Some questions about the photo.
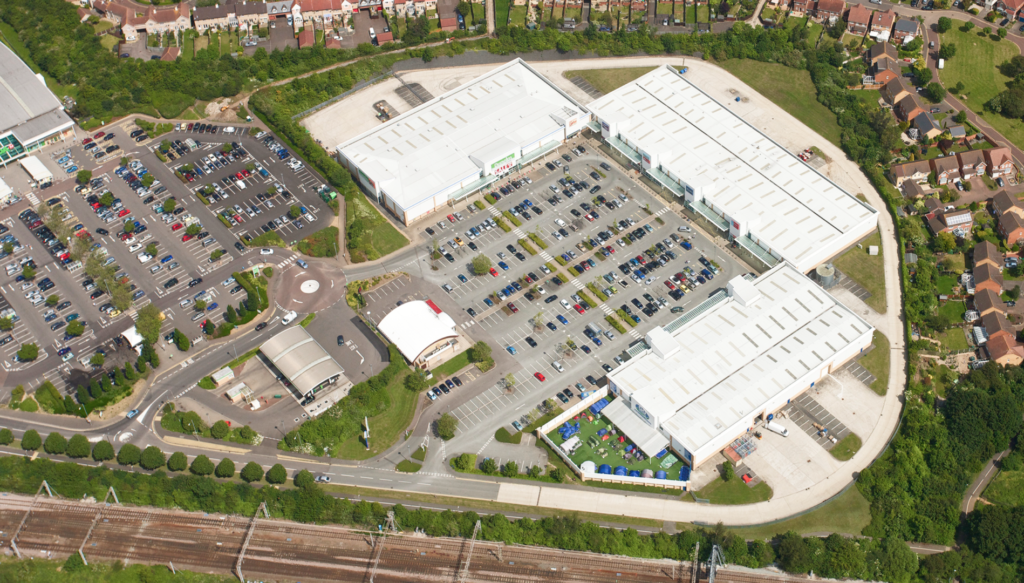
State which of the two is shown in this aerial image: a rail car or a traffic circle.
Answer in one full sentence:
It is a traffic circle that can be seen here.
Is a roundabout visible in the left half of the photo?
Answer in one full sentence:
Yes, a roundabout can be seen in the left half of the photo.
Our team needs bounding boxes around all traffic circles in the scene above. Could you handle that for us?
[273,261,346,312]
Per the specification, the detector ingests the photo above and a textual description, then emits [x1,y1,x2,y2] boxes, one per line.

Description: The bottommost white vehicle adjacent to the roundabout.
[281,308,297,325]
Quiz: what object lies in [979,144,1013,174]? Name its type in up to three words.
house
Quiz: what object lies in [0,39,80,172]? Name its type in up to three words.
building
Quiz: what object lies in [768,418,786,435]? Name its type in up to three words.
vehicle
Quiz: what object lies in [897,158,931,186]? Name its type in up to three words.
house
